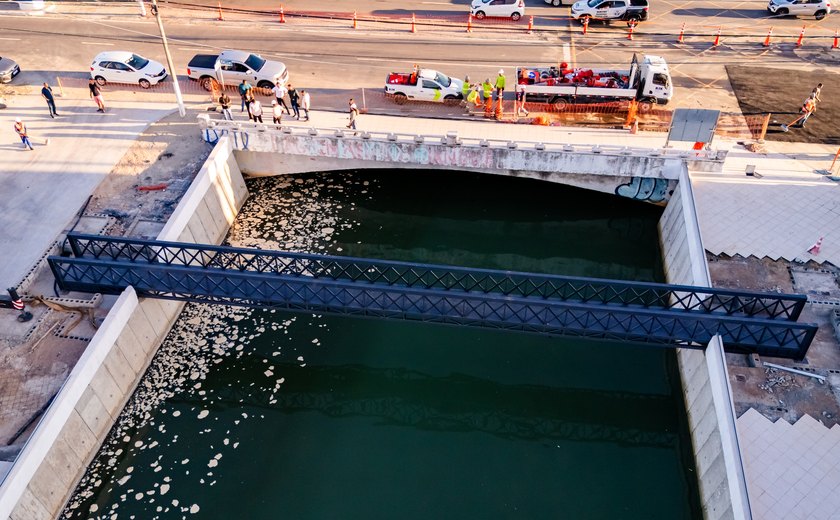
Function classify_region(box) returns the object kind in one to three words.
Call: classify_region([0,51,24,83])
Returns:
car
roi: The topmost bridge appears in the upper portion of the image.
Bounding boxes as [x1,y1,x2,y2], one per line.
[192,98,729,207]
